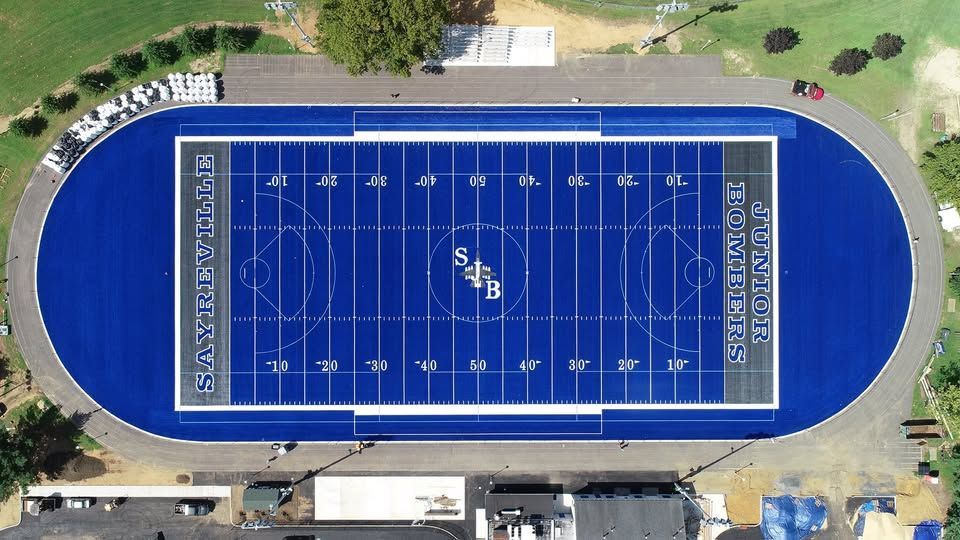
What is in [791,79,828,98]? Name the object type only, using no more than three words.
vehicle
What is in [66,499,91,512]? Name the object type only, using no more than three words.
vehicle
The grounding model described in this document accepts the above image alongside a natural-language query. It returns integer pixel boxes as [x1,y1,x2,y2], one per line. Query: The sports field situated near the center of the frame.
[175,112,779,433]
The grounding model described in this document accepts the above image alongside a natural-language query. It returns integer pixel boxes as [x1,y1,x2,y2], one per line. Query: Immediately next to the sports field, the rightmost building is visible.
[566,488,684,540]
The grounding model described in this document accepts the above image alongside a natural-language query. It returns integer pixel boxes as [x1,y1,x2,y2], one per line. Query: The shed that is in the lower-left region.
[242,484,282,512]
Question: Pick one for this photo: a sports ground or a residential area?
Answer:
sports ground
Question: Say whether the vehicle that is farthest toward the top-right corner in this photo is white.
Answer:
No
